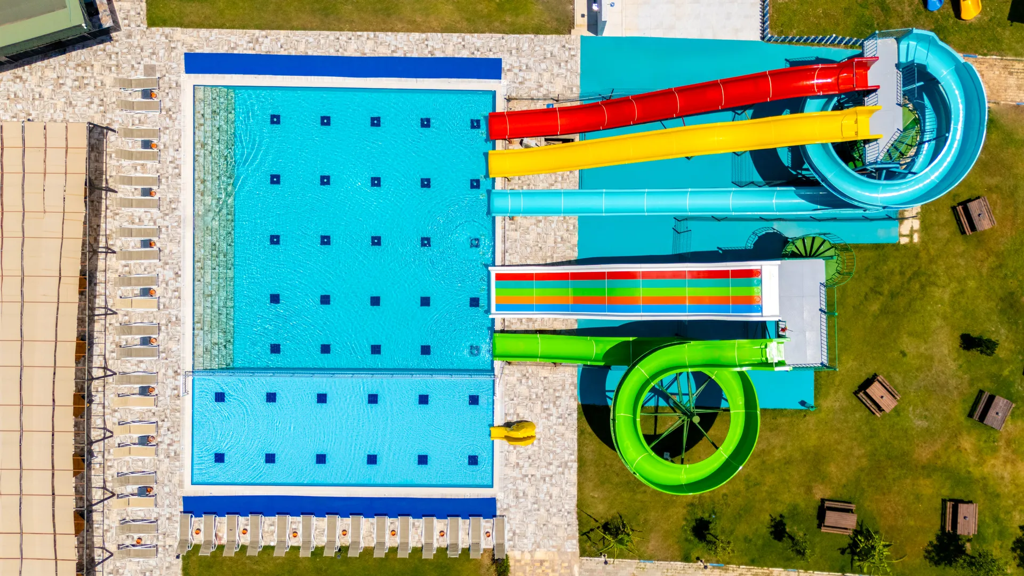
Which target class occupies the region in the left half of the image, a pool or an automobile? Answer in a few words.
pool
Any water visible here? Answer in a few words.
Yes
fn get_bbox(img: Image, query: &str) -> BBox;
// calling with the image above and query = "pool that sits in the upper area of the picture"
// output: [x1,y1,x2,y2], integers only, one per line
[179,75,508,377]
